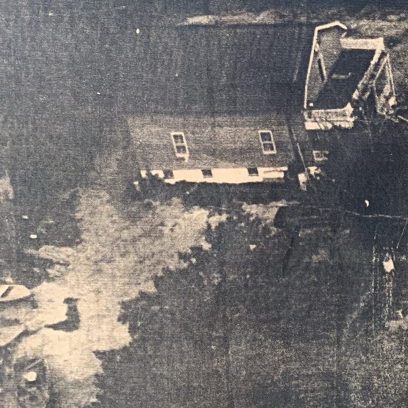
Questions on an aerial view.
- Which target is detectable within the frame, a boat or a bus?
boat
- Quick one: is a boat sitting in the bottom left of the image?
Yes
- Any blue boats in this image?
No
